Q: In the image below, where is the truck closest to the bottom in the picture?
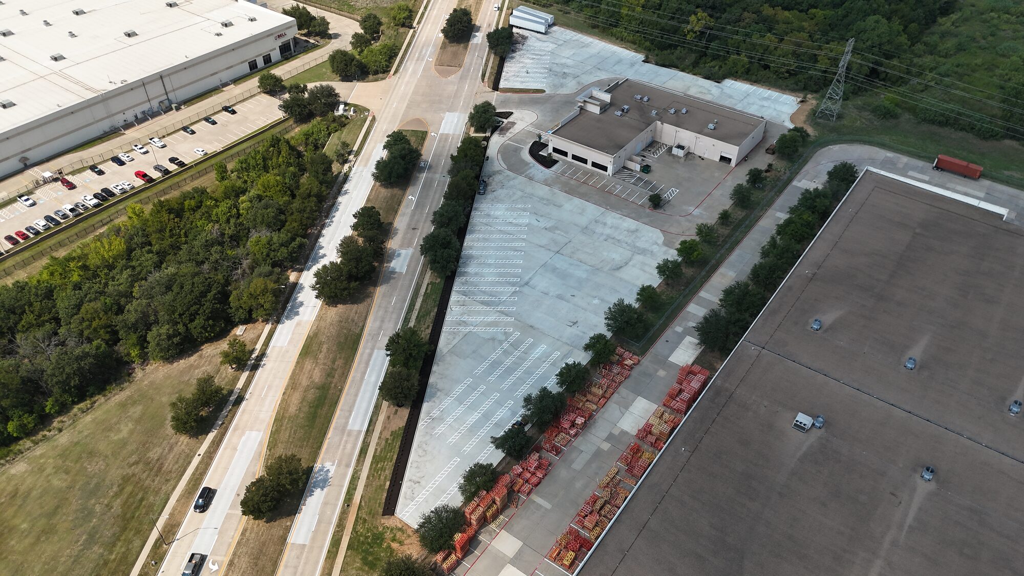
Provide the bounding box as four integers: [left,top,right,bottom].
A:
[186,553,208,576]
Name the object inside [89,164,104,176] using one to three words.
vehicle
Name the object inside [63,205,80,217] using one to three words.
vehicle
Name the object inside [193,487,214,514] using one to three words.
car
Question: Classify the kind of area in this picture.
industrial area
